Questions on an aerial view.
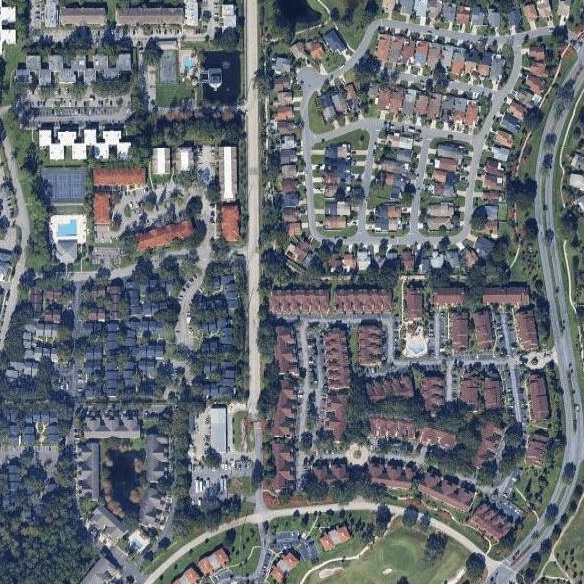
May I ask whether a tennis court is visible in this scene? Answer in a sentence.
Yes, the image includes a tennis court.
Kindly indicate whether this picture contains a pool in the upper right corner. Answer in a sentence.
No, I can find no pool in the upper right corner.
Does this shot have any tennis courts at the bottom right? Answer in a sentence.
No, no tennis court appears at the bottom right.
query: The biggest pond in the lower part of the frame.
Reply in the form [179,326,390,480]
[104,450,146,517]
